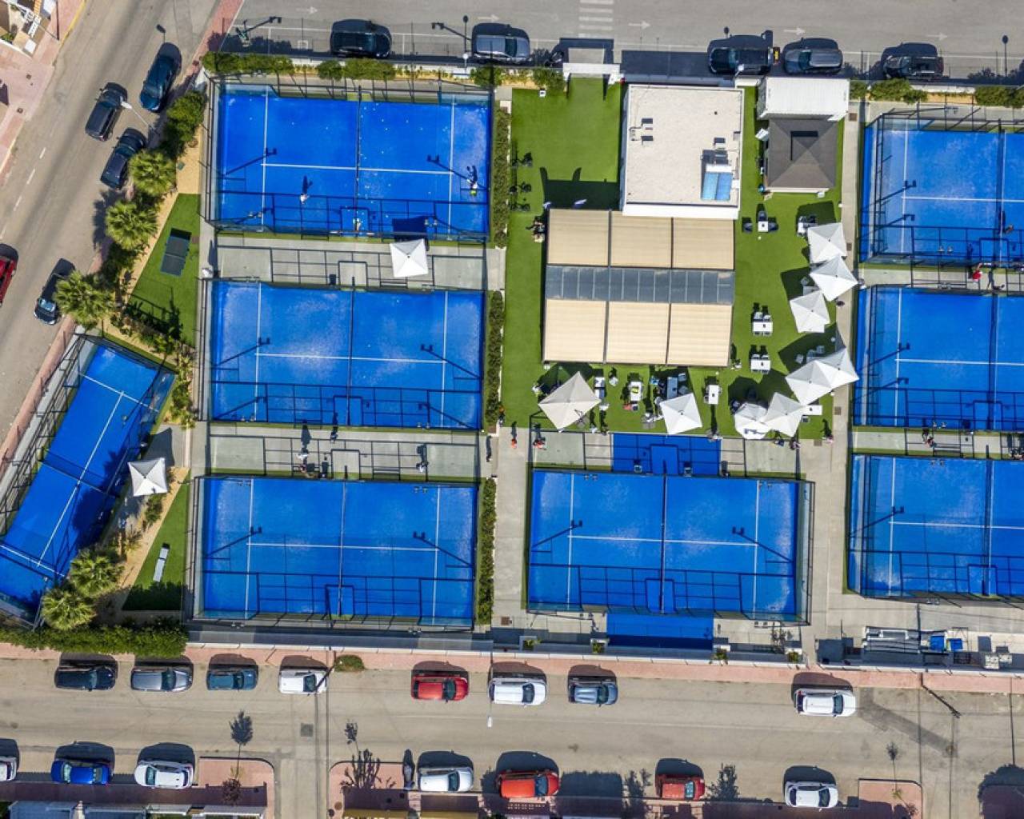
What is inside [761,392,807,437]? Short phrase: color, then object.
white umbrella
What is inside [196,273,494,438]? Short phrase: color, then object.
blue sports court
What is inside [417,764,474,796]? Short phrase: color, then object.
white car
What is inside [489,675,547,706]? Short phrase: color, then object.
white car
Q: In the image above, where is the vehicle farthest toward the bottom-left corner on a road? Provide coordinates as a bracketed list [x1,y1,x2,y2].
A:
[0,756,22,783]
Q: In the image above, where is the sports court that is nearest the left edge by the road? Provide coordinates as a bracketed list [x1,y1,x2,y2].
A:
[0,332,181,629]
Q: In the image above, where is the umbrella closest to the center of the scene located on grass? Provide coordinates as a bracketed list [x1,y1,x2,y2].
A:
[541,374,597,430]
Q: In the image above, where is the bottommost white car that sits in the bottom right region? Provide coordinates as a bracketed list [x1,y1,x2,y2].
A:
[784,779,839,812]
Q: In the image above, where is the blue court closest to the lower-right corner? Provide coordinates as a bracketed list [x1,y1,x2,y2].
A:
[843,447,1024,607]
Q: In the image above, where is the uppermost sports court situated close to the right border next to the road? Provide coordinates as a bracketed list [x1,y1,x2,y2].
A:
[854,100,1024,272]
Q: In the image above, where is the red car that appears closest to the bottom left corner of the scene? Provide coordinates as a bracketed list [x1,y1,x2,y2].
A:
[411,672,469,703]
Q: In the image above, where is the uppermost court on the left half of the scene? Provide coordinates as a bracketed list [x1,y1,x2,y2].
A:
[205,71,501,248]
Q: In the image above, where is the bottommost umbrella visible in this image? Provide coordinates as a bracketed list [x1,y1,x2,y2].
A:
[128,456,168,497]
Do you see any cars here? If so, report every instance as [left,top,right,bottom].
[881,49,945,81]
[134,760,194,792]
[99,134,142,193]
[330,29,392,61]
[0,756,22,783]
[130,664,194,696]
[50,758,114,789]
[656,774,705,804]
[138,49,182,113]
[784,779,839,812]
[0,249,22,306]
[793,688,857,720]
[278,667,327,695]
[411,672,469,703]
[489,675,547,706]
[708,42,780,76]
[206,665,258,694]
[497,769,559,803]
[84,88,125,144]
[568,677,618,706]
[417,764,474,796]
[781,43,844,76]
[33,271,72,328]
[53,663,118,695]
[472,32,532,63]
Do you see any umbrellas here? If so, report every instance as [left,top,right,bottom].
[809,253,858,302]
[806,221,846,261]
[761,392,807,437]
[541,374,597,430]
[819,348,858,387]
[788,291,830,333]
[658,392,701,435]
[787,356,836,406]
[128,456,168,497]
[732,402,769,439]
[389,238,429,278]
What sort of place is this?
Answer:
sports ground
